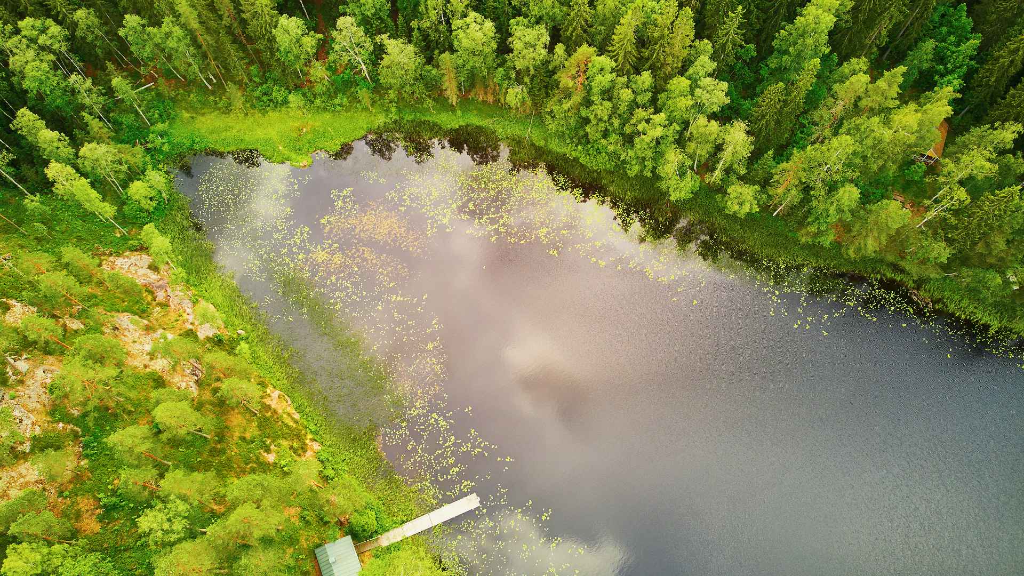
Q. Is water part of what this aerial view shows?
Yes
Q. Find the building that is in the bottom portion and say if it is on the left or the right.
left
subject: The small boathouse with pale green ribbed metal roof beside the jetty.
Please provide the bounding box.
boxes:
[314,533,364,576]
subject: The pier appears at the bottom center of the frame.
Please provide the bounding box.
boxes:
[354,493,481,554]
